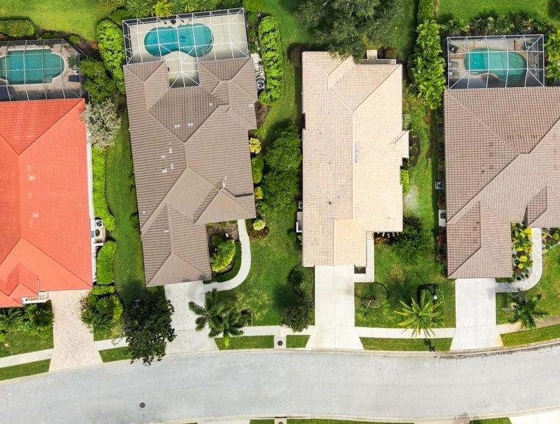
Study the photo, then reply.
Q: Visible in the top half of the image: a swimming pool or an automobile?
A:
swimming pool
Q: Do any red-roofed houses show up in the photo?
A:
Yes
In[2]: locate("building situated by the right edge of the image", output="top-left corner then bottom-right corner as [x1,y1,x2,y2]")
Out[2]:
[443,86,560,279]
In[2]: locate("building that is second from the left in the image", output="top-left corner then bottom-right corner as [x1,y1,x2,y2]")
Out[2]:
[123,56,259,287]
